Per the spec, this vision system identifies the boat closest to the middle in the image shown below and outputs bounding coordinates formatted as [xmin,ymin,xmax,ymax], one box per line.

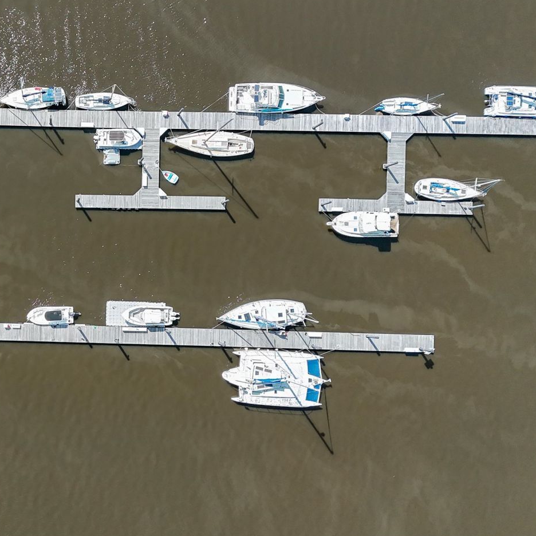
[217,299,321,331]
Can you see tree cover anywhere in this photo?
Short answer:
No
